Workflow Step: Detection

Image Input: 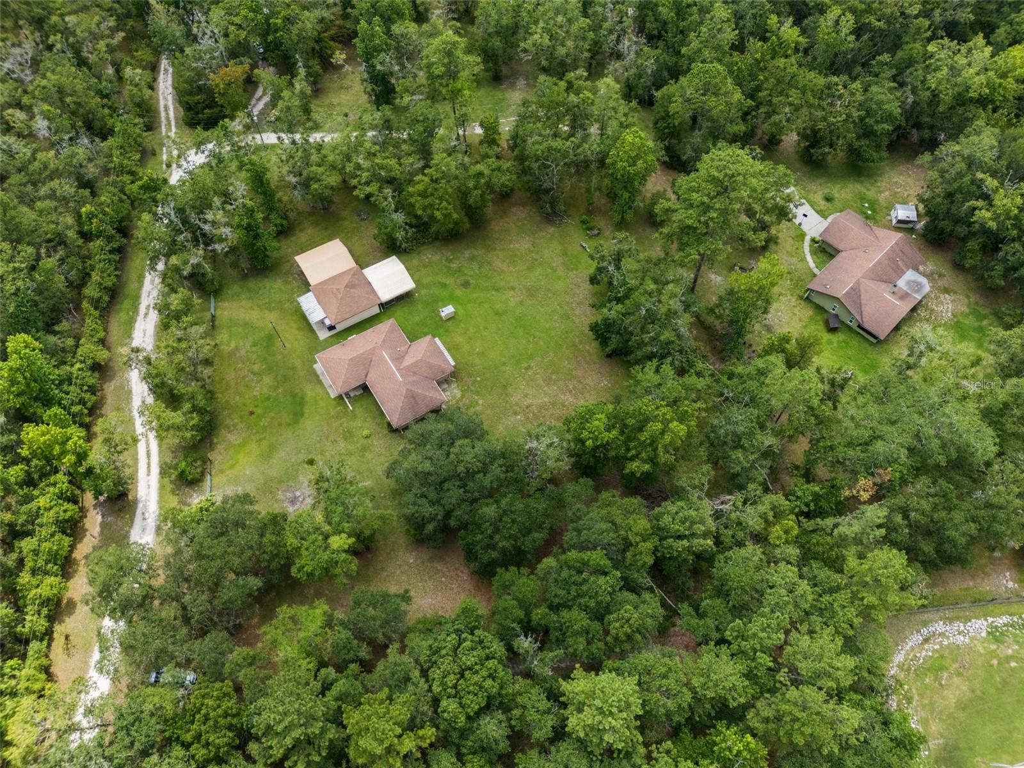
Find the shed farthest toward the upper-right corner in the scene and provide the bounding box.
[882,208,919,232]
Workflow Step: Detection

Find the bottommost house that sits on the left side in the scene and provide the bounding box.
[315,319,463,440]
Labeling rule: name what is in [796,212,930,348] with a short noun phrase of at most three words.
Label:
building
